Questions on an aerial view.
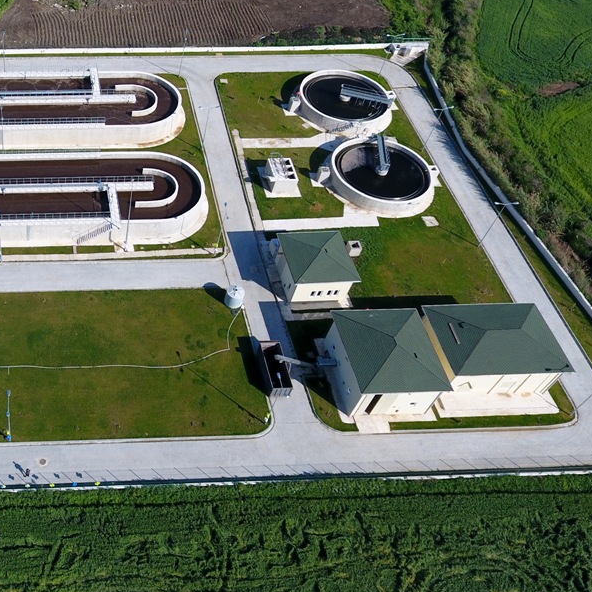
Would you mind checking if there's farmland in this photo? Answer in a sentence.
Yes, there is farmland in the image.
